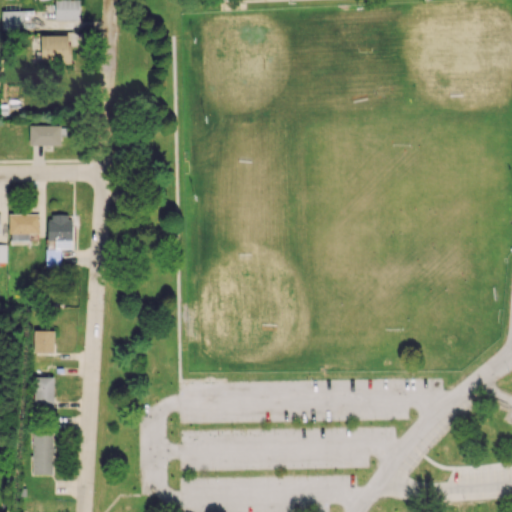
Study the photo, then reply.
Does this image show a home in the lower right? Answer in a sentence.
No, looking in the lower right, there is no home.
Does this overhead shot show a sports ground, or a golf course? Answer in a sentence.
This looks like a sports ground.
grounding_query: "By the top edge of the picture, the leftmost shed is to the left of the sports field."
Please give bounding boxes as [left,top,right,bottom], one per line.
[1,10,34,30]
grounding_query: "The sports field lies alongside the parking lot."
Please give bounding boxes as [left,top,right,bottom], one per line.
[183,0,512,372]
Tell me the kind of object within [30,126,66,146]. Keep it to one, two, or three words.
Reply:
house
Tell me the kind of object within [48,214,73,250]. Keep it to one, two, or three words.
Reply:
house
